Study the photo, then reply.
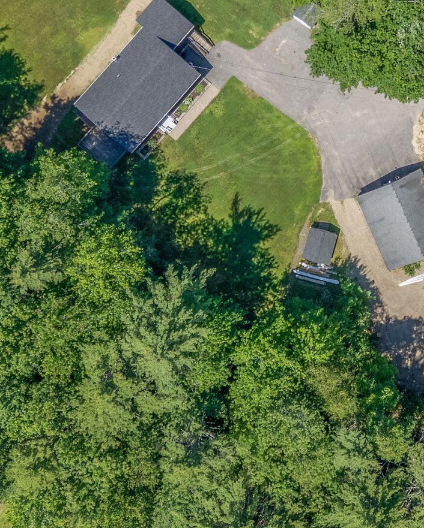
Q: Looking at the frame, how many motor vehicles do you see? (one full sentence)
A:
Not a single motor vehicle can be seen.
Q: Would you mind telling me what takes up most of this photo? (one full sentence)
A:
Most of the picture is covered by trees.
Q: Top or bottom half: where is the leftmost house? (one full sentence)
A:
The leftmost house sits in the top half of the picture.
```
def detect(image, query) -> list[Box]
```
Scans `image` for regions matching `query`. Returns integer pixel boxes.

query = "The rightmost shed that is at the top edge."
[293,0,324,29]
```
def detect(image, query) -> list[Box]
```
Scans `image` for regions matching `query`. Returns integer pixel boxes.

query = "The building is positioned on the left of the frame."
[73,0,201,164]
